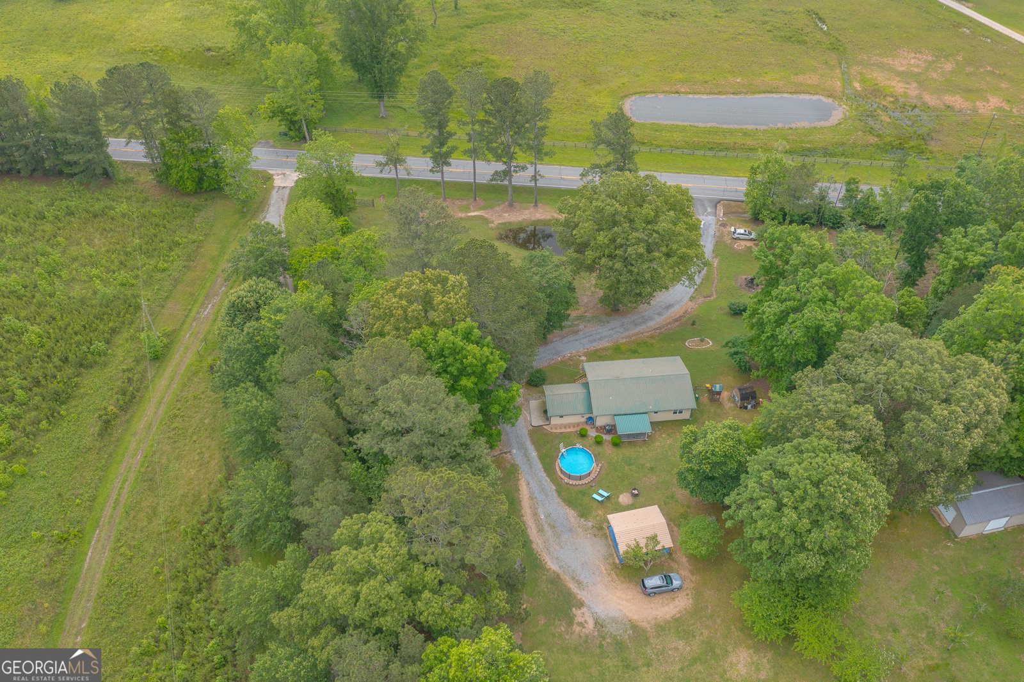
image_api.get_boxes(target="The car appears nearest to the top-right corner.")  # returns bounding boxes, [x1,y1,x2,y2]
[730,226,759,241]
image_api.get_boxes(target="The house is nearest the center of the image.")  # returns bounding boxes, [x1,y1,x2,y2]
[543,357,696,442]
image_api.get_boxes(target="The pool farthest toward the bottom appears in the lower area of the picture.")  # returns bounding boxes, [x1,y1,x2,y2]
[557,444,596,482]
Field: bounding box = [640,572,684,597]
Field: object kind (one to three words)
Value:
car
